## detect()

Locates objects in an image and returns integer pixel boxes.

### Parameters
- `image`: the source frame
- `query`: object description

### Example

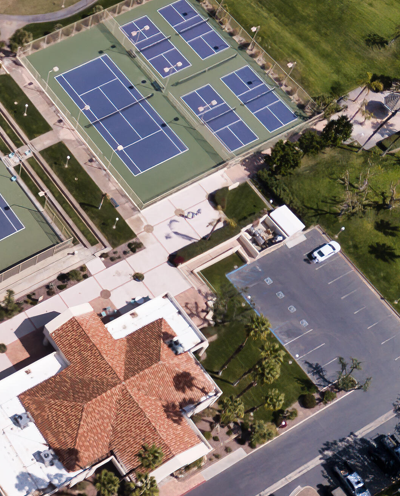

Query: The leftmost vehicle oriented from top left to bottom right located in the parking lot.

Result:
[334,462,373,496]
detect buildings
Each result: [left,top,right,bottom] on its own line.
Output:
[0,280,223,496]
[269,205,307,247]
